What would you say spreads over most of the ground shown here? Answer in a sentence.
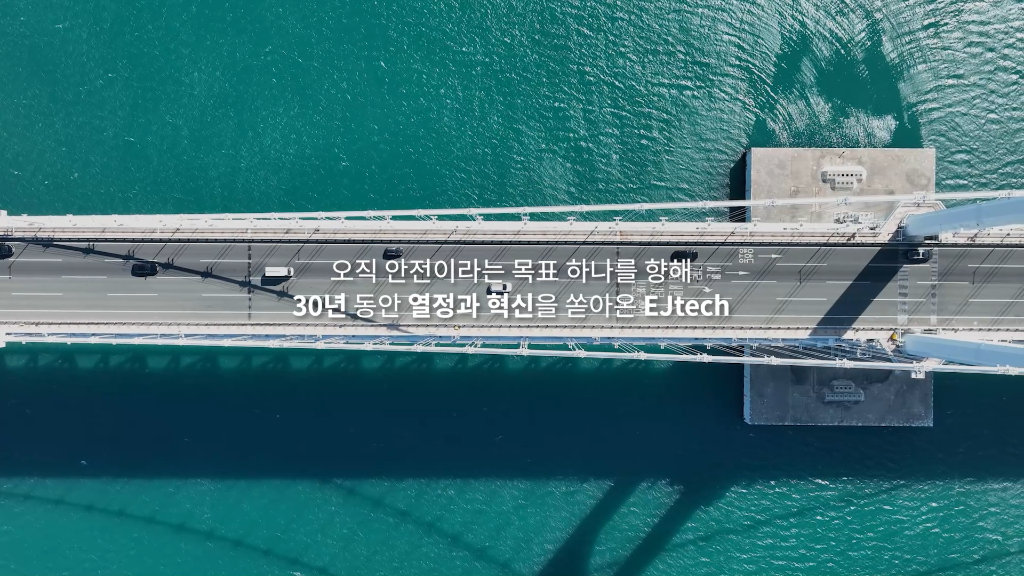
The largest share of the image is taken up by water.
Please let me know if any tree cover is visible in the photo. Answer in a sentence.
No, no tree cover is visible.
